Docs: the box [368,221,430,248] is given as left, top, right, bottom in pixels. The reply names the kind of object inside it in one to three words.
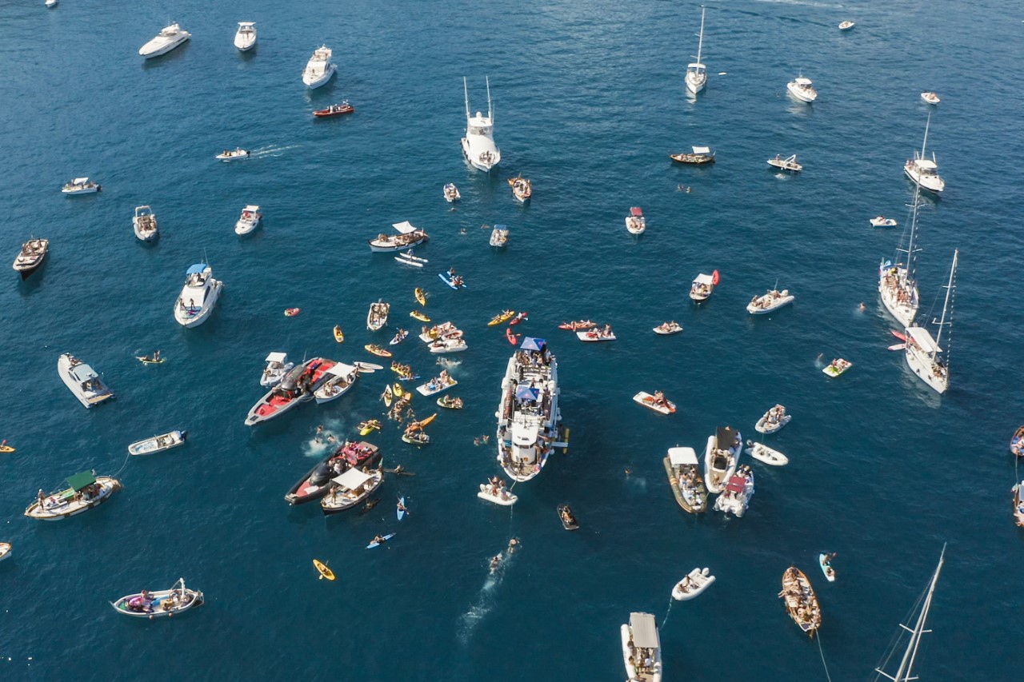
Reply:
boat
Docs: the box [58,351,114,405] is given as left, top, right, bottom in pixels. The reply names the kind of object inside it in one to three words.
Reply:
boat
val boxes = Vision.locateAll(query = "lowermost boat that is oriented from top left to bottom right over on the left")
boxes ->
[313,558,335,579]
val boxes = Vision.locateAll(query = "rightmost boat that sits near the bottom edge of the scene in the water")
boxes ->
[851,553,944,682]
